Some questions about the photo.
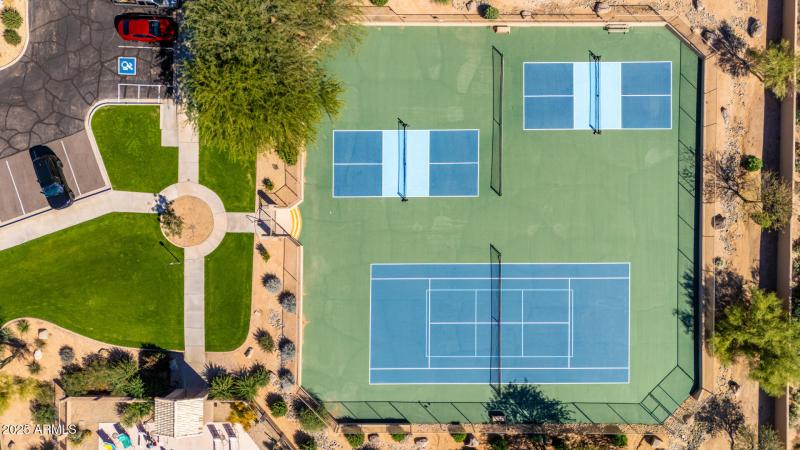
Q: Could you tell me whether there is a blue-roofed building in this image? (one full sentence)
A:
No, there isn't any blue-roofed building down there.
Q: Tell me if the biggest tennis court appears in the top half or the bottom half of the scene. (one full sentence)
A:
The biggest tennis court is in the bottom half of the image.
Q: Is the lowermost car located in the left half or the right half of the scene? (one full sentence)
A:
It is on the left.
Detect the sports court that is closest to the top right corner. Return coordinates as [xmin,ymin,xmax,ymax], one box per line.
[523,62,672,130]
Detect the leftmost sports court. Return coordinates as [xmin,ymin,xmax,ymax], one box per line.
[333,129,479,198]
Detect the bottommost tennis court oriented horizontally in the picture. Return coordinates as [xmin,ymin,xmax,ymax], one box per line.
[370,263,630,384]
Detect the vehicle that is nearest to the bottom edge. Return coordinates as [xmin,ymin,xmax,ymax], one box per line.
[32,148,73,205]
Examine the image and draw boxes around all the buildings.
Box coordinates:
[154,391,212,439]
